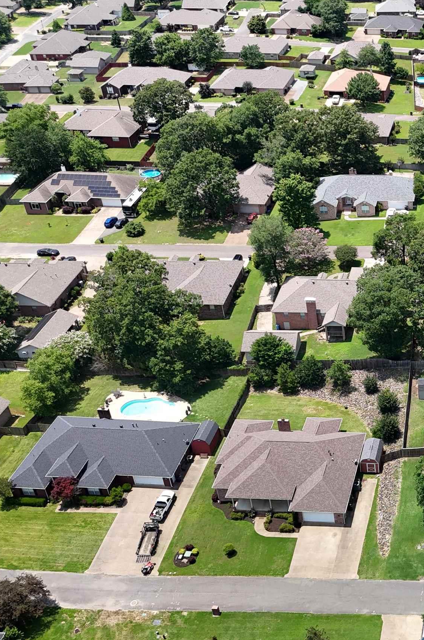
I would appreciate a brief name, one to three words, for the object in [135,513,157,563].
trailer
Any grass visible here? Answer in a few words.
Yes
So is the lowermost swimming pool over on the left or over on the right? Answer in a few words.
left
